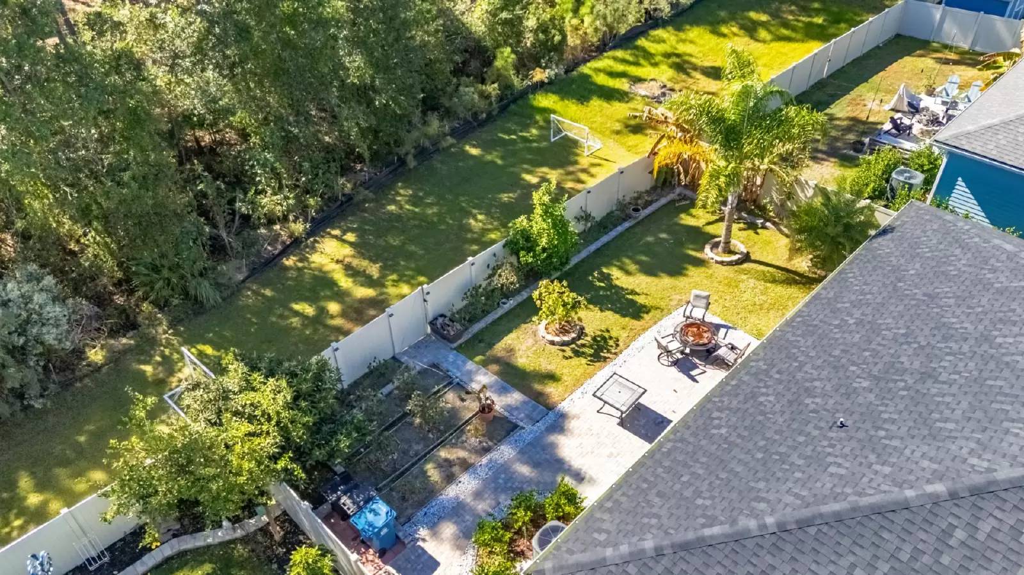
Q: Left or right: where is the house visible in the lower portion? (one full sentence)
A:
The house visible in the lower portion appears in the right half of the scene.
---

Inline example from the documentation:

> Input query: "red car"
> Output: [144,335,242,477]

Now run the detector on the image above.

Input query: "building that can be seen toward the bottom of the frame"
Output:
[517,200,1024,575]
